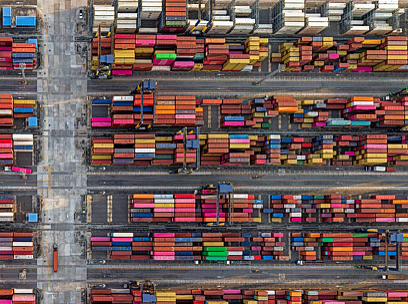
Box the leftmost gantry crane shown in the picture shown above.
[91,23,115,77]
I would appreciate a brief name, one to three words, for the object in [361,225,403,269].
container crane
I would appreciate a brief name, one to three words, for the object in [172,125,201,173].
container crane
